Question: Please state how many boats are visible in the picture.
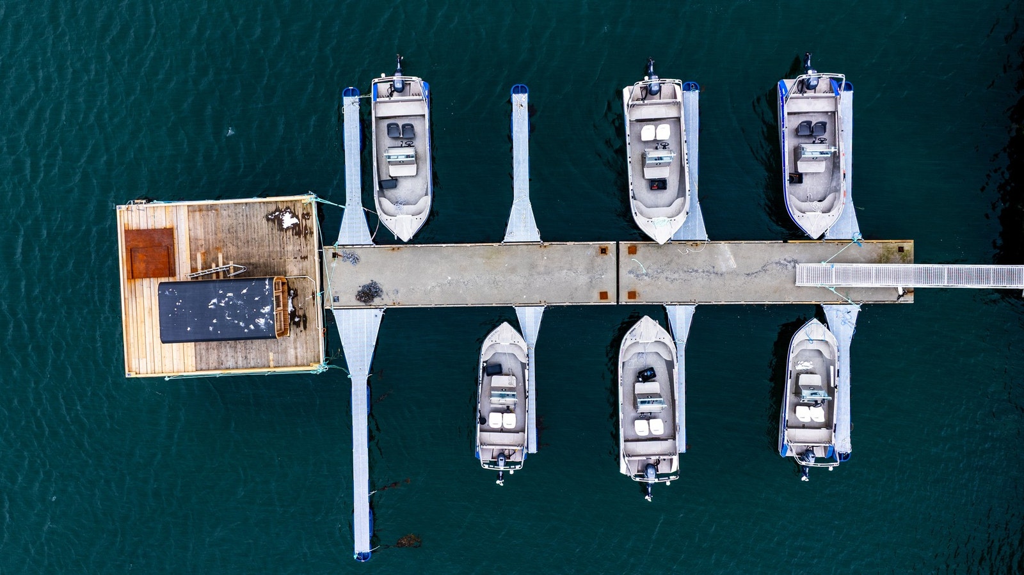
6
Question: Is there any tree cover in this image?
No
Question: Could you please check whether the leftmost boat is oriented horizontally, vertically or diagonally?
vertically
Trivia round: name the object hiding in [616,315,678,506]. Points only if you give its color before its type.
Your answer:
white boat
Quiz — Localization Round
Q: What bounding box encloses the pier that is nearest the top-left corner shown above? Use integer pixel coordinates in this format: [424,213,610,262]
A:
[324,240,623,311]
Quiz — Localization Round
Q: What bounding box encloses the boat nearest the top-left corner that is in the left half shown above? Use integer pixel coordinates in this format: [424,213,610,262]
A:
[373,51,435,242]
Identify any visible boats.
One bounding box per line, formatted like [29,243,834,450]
[623,54,686,245]
[477,322,529,493]
[779,318,837,487]
[373,51,435,242]
[616,315,678,506]
[778,47,845,240]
